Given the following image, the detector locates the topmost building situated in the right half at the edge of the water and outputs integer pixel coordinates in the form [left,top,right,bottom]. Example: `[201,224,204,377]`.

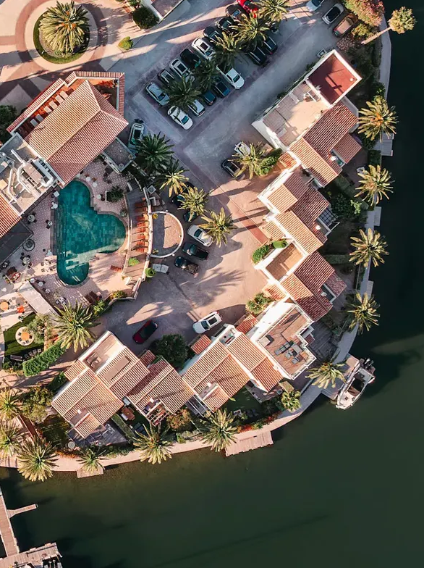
[245,49,365,189]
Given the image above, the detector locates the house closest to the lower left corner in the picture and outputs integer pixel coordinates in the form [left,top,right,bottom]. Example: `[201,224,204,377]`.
[49,366,125,438]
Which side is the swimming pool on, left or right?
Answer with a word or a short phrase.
left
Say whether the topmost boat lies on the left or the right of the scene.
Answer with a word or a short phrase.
right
